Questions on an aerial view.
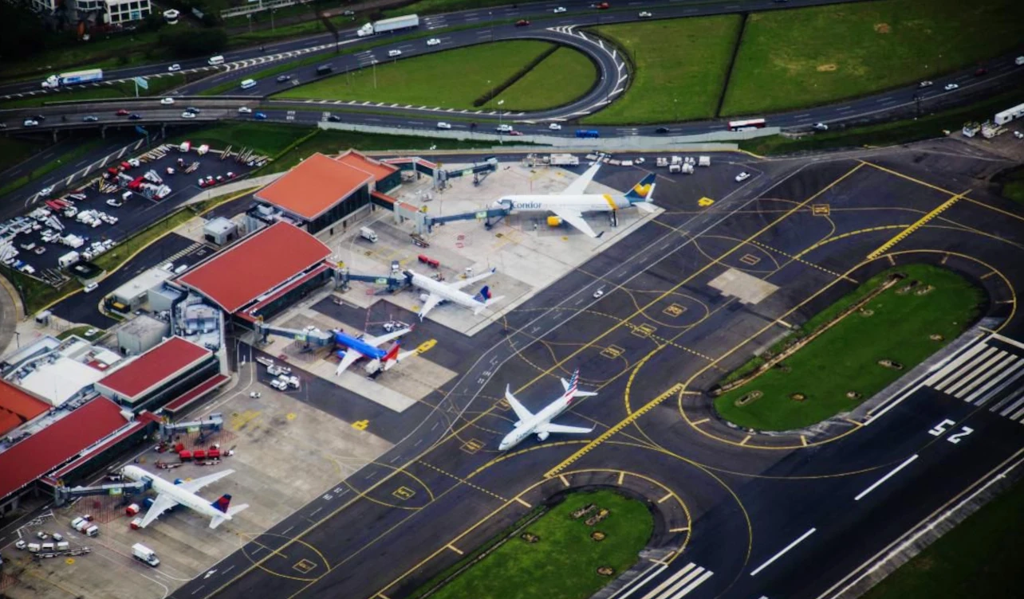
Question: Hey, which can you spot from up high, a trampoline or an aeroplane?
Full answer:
The one in the frame is an aeroplane.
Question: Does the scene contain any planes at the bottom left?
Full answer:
Yes, a plane is visible at the bottom left.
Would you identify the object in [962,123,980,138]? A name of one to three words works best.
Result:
vehicle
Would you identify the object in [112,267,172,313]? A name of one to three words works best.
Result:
building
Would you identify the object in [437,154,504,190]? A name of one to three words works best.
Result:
jet bridge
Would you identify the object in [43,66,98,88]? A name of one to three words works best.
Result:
truck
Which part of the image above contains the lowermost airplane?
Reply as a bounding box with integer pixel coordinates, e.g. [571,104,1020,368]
[123,468,246,528]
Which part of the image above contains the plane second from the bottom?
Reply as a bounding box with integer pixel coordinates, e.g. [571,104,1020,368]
[499,371,596,452]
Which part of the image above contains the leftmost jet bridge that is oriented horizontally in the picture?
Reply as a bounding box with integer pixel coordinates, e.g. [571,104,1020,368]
[57,469,158,514]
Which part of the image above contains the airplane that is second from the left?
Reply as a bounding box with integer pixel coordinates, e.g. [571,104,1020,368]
[333,324,418,379]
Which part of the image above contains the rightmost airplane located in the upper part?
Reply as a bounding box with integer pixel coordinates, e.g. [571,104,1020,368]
[500,154,655,241]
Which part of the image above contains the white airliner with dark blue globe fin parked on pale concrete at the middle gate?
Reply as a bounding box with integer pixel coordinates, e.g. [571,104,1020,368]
[413,266,504,318]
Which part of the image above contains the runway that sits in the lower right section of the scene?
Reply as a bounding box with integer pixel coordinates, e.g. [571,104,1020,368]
[597,302,1024,599]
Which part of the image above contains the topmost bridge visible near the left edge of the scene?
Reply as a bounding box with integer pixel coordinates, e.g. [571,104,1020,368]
[0,93,319,142]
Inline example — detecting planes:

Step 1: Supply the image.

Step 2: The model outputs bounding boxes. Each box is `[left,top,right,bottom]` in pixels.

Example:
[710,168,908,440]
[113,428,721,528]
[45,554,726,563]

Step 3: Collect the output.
[499,371,596,452]
[123,468,246,528]
[333,324,418,379]
[413,266,504,318]
[500,154,655,241]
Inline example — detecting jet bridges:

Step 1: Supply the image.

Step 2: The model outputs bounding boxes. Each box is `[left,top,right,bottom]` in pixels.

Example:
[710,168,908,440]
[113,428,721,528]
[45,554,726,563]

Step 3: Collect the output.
[57,469,158,514]
[437,154,504,190]
[257,322,343,352]
[424,198,511,238]
[160,409,230,448]
[339,267,419,296]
